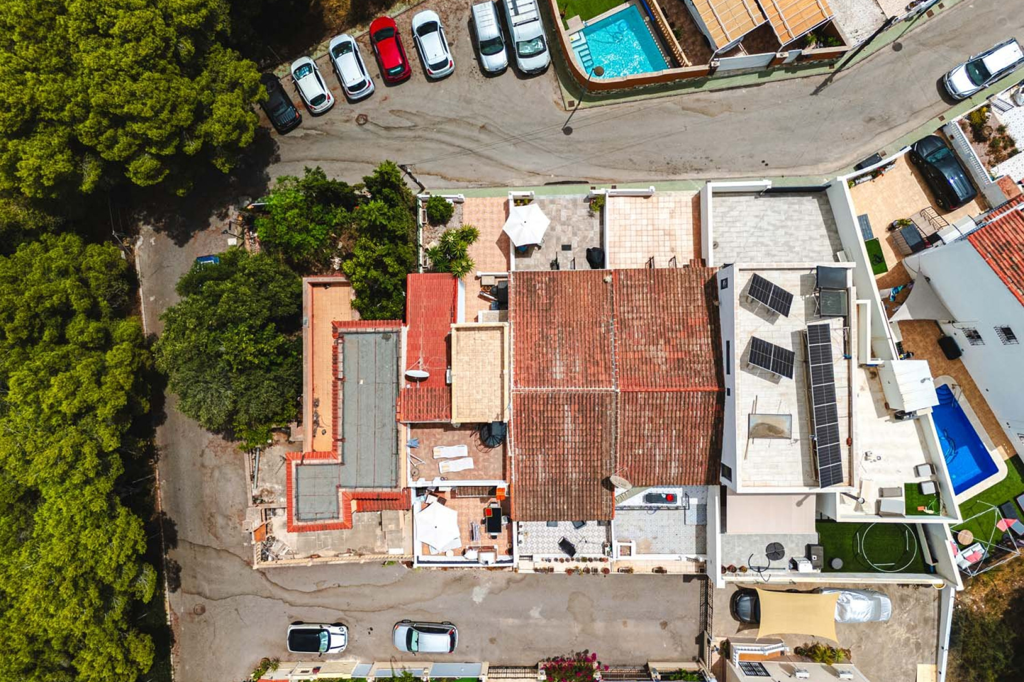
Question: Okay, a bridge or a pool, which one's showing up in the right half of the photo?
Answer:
pool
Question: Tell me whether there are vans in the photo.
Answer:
Yes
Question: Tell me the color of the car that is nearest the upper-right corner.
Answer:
white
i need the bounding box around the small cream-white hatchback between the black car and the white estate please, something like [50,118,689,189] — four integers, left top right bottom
[290,55,336,118]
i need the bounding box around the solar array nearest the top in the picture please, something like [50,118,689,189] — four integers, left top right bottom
[743,273,794,317]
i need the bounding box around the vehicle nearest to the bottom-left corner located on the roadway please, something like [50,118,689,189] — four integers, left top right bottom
[287,619,349,658]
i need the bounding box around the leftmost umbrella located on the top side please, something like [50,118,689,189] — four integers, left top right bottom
[503,204,550,247]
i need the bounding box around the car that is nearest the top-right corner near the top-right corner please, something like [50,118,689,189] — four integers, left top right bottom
[947,37,1024,100]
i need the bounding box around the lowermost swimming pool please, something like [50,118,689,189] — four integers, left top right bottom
[927,384,998,496]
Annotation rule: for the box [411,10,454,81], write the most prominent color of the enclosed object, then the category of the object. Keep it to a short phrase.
white car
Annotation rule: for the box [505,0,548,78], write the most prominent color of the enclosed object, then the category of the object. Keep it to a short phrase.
white van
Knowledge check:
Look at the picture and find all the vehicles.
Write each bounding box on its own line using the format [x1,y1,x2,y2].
[393,618,458,657]
[730,589,760,626]
[329,33,376,103]
[411,10,454,81]
[369,16,412,85]
[290,55,336,118]
[287,619,349,658]
[471,0,509,78]
[907,134,975,211]
[947,37,1024,100]
[257,70,308,139]
[505,0,548,78]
